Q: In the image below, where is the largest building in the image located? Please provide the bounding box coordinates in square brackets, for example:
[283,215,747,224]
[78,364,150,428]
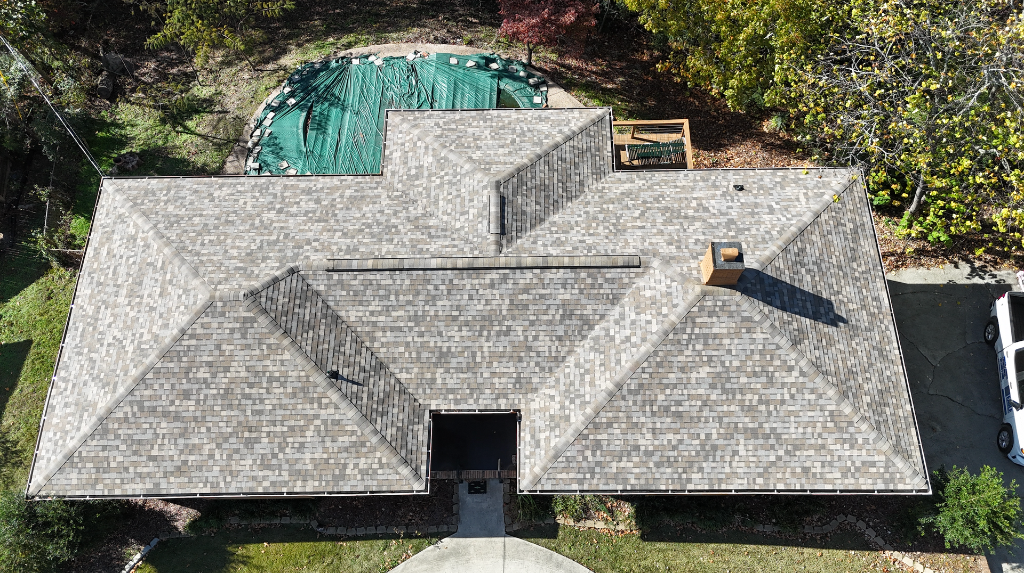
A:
[26,106,932,500]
